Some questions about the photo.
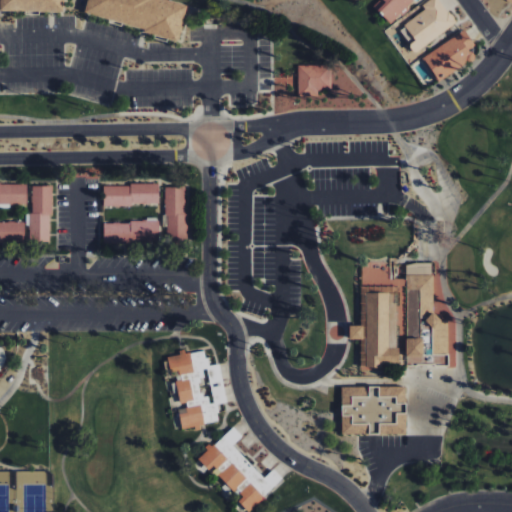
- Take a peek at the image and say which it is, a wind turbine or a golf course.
golf course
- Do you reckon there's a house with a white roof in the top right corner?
Yes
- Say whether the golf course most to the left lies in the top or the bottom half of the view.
bottom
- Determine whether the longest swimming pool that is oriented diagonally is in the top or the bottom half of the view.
top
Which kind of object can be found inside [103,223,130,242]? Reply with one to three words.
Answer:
building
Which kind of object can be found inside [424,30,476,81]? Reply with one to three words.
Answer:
house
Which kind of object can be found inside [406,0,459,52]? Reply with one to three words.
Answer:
house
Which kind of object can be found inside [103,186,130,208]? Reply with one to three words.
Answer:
building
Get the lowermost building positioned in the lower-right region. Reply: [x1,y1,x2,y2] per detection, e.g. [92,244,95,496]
[342,386,408,436]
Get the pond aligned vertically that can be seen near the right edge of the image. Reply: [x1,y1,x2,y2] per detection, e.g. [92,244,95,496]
[474,306,512,386]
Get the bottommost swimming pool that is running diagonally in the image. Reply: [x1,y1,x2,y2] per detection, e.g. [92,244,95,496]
[412,60,434,84]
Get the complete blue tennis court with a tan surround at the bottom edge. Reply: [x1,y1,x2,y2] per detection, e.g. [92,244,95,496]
[16,471,52,512]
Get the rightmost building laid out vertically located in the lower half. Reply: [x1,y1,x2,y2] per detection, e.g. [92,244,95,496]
[406,263,450,366]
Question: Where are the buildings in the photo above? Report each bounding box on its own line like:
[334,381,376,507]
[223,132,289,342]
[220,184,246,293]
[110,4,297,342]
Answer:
[168,350,226,431]
[406,0,459,52]
[0,184,26,206]
[0,0,64,14]
[362,291,404,370]
[424,30,476,81]
[406,263,450,366]
[84,0,187,42]
[168,214,188,240]
[374,0,417,24]
[298,65,332,96]
[131,221,160,241]
[103,223,130,242]
[342,386,408,436]
[166,187,186,214]
[130,183,160,206]
[32,185,52,214]
[103,186,130,208]
[198,426,284,512]
[0,222,24,243]
[29,214,50,242]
